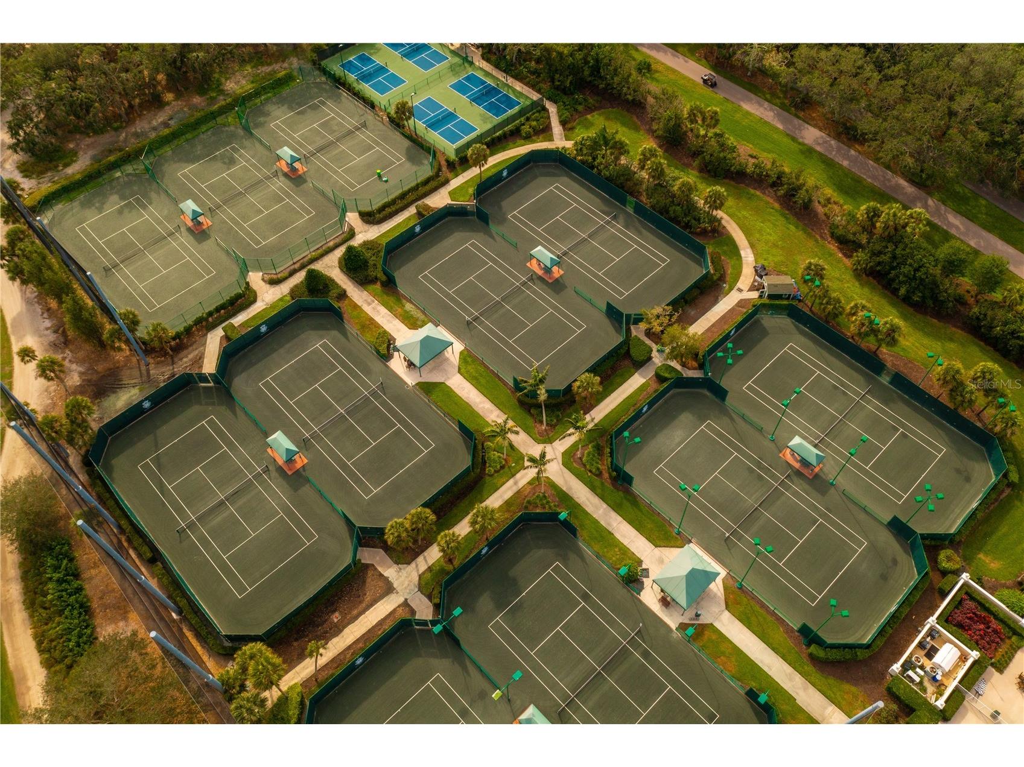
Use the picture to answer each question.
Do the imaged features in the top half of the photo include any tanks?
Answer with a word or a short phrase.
No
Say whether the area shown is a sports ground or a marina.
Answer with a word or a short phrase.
sports ground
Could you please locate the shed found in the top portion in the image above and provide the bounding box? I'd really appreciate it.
[755,280,791,304]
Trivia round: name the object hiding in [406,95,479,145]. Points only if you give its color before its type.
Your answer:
blue sports court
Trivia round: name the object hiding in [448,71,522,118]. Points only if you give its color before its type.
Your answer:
blue sports court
